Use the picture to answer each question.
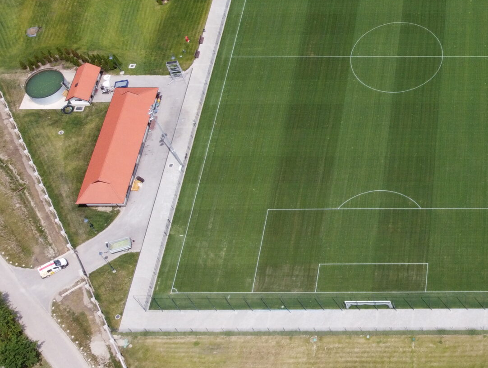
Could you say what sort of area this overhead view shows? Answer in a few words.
sports ground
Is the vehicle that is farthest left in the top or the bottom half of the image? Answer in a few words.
bottom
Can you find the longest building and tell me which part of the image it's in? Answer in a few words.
left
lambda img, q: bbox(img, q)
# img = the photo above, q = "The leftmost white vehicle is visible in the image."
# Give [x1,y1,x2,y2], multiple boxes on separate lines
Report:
[34,257,69,279]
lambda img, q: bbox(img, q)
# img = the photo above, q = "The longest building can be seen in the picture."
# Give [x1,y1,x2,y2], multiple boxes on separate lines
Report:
[76,87,161,206]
